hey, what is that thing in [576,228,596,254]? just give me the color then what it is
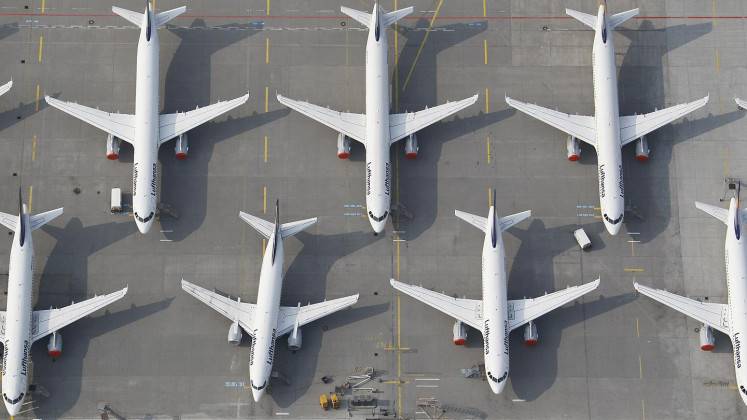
white vehicle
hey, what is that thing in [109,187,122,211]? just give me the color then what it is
white vehicle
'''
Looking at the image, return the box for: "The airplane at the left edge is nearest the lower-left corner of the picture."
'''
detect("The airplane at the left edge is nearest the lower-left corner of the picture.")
[0,187,126,416]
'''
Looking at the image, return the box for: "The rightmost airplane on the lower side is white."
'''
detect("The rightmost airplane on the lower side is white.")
[633,182,747,411]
